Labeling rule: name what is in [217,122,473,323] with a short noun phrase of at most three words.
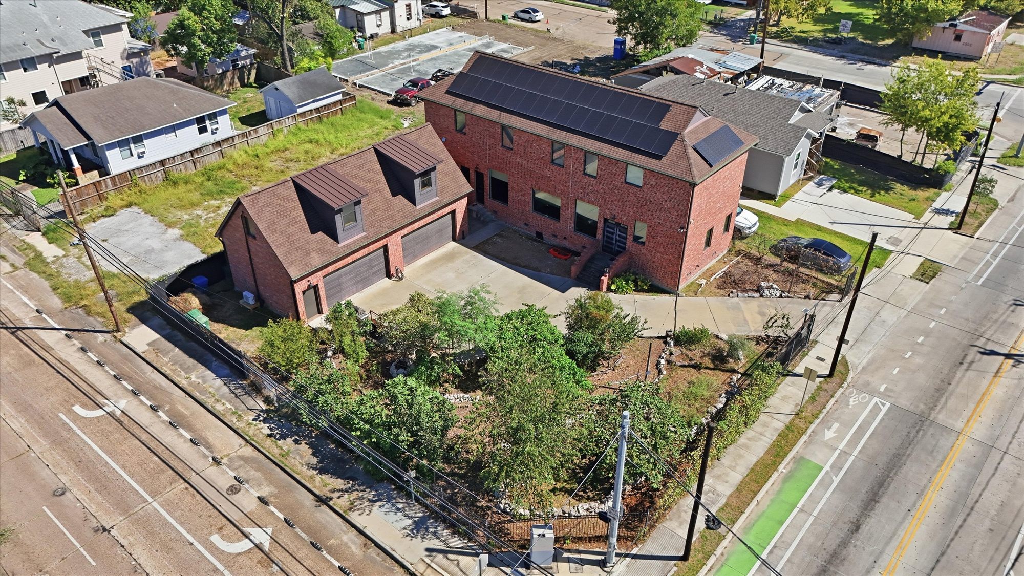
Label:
building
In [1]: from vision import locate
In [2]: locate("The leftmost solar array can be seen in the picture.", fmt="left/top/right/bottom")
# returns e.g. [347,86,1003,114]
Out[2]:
[446,55,678,157]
